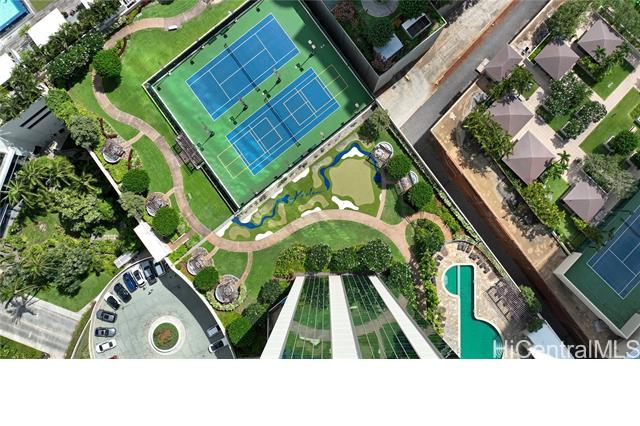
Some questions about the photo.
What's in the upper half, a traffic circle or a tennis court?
tennis court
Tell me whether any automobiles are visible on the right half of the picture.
No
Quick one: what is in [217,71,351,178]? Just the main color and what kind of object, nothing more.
blue tennis court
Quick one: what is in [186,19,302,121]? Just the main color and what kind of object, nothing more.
blue tennis court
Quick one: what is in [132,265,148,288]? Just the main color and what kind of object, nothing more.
white car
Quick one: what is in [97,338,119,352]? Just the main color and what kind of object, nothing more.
white car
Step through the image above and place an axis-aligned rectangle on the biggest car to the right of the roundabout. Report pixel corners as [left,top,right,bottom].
[207,338,227,354]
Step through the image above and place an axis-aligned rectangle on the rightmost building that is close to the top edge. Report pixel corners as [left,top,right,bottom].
[571,18,624,63]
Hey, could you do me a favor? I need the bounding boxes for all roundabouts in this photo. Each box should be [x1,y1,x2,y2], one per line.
[148,318,184,355]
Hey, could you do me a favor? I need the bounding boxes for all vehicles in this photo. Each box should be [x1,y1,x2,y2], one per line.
[154,257,168,277]
[207,338,227,354]
[139,257,158,285]
[97,338,119,352]
[121,270,141,294]
[96,309,119,322]
[102,291,123,312]
[132,265,148,288]
[96,327,117,338]
[112,282,134,304]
